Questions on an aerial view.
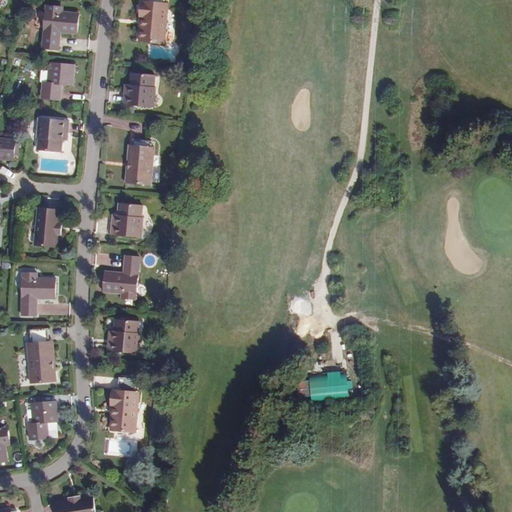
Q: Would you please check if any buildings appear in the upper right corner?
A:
No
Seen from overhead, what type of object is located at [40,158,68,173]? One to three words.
swimming pool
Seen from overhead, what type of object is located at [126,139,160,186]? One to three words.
house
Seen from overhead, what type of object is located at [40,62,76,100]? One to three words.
house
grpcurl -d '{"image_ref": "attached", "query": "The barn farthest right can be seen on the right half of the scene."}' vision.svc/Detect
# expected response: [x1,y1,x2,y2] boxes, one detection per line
[310,370,353,404]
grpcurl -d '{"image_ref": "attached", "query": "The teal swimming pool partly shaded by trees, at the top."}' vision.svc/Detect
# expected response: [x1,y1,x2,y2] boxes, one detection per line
[148,44,177,62]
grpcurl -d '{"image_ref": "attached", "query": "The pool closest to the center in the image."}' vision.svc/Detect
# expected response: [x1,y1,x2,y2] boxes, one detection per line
[142,253,159,268]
